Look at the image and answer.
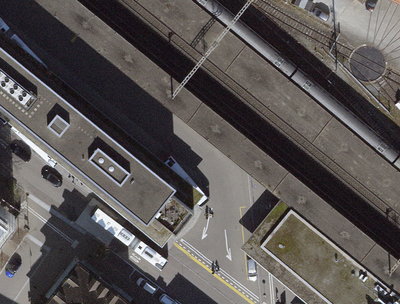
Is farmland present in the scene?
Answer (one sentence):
No, there is no farmland in the image.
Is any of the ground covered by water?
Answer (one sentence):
No, no water is visible.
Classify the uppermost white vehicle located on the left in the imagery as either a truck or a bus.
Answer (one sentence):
The uppermost white vehicle located on the left is a bus.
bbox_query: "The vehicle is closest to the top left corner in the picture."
[9,142,30,161]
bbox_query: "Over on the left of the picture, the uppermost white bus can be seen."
[91,208,168,270]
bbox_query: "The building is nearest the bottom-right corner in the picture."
[241,201,400,304]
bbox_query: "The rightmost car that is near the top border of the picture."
[366,0,379,14]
